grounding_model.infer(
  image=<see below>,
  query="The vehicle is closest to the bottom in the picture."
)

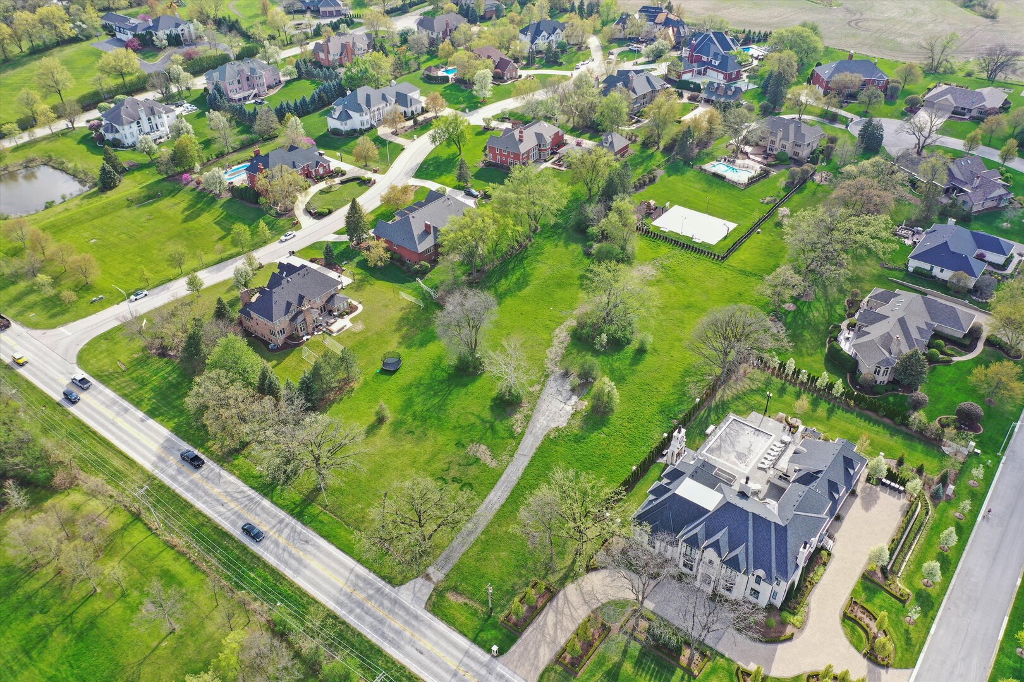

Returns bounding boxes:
[242,521,269,543]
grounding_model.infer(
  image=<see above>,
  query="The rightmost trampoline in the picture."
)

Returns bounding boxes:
[381,355,402,374]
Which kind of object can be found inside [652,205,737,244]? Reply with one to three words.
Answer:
sports court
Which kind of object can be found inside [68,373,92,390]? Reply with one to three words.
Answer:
vehicle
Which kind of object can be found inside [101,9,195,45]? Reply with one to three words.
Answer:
house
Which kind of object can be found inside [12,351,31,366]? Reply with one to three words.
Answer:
car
